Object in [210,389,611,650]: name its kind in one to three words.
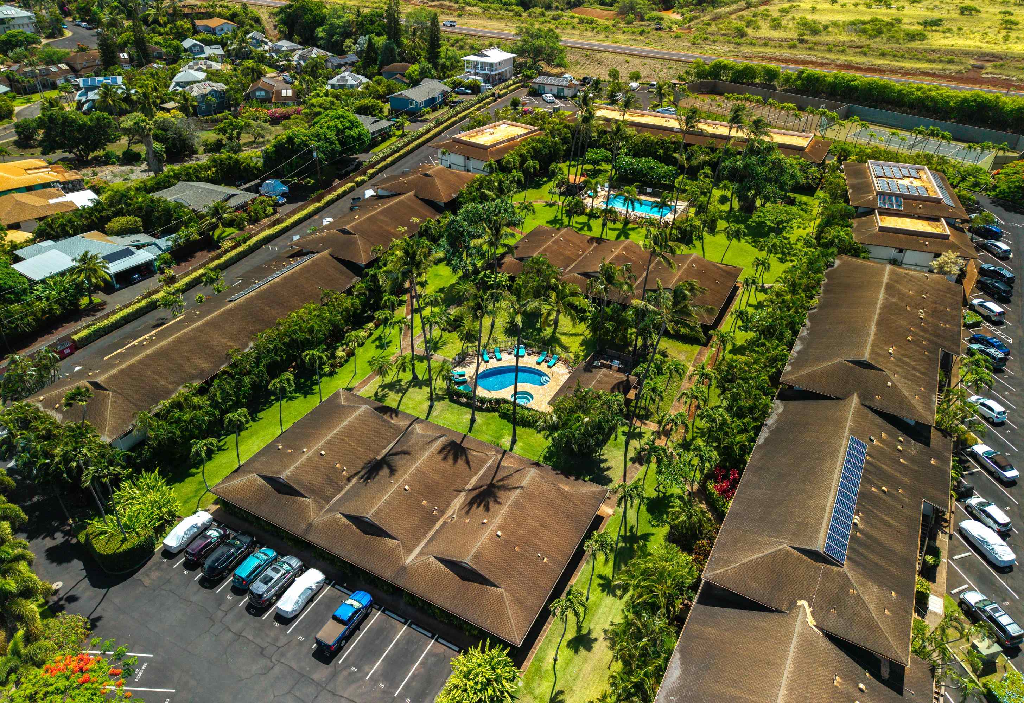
building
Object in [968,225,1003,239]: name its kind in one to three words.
car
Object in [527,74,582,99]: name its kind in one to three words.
house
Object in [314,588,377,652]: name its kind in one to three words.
truck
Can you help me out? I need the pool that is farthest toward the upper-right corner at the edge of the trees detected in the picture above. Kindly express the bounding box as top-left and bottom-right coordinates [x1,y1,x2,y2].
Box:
[581,187,685,224]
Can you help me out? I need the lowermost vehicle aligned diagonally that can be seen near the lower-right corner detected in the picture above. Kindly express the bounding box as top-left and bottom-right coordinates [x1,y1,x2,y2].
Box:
[957,591,1024,648]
